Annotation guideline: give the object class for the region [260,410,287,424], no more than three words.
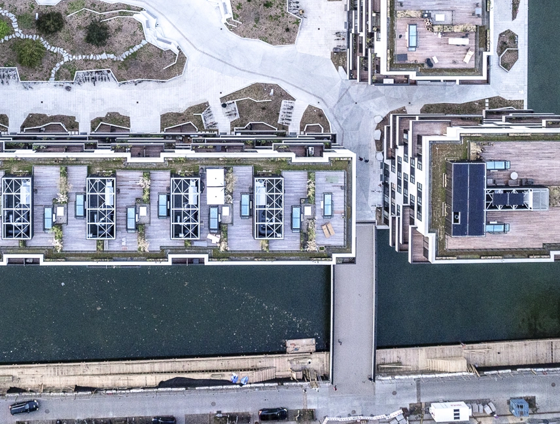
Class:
car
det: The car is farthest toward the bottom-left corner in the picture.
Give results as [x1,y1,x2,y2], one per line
[10,402,37,418]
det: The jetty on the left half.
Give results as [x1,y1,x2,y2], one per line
[0,349,329,387]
